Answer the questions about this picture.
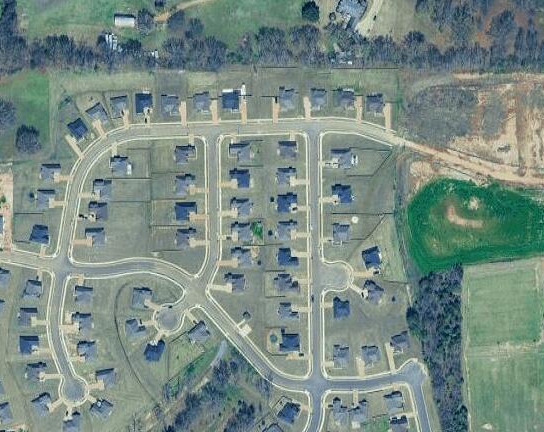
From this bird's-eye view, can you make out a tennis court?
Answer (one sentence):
No, there isn't any tennis court down there.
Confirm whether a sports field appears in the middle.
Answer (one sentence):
No, no sports field is visible in the middle.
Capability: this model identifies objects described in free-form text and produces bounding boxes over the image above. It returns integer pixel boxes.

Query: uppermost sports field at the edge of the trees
[468,267,540,343]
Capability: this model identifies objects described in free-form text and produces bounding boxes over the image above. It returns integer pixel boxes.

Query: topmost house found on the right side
[334,0,367,21]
